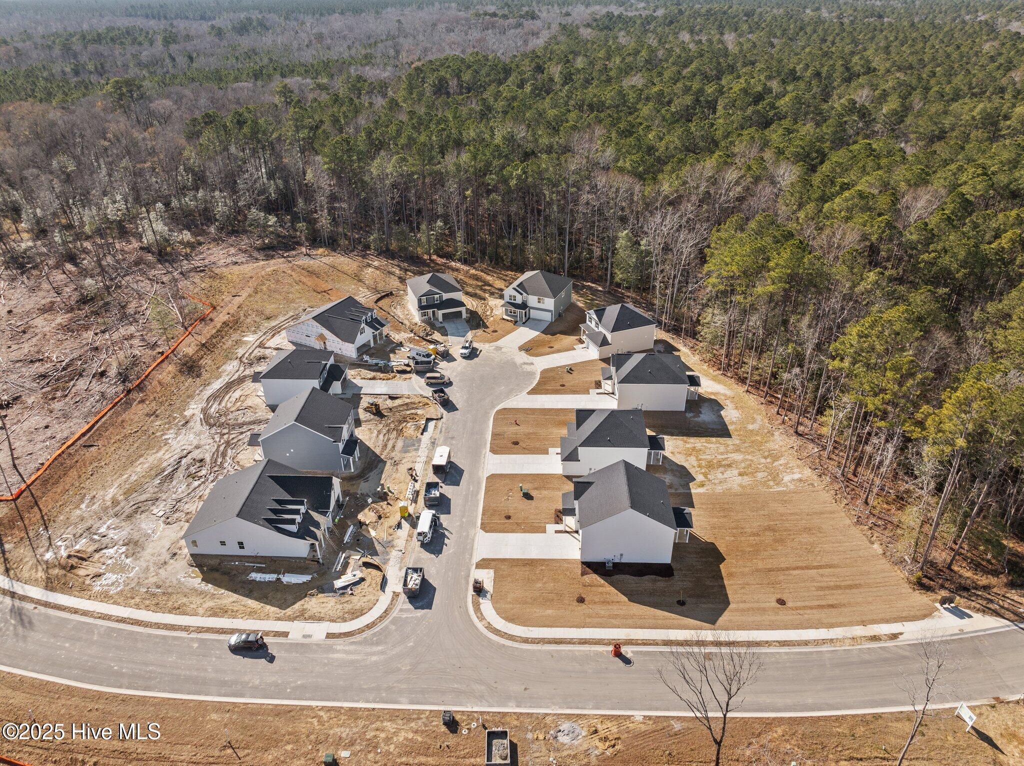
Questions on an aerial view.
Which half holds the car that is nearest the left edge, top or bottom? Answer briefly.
bottom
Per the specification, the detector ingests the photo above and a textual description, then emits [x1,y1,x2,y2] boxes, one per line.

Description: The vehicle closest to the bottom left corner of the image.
[223,633,267,655]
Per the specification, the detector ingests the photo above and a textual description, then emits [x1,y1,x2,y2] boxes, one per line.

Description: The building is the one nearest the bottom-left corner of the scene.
[182,461,345,557]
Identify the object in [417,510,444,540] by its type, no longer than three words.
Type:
vehicle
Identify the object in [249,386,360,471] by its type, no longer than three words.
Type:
house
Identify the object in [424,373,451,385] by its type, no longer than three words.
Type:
vehicle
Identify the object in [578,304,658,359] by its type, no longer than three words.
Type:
house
